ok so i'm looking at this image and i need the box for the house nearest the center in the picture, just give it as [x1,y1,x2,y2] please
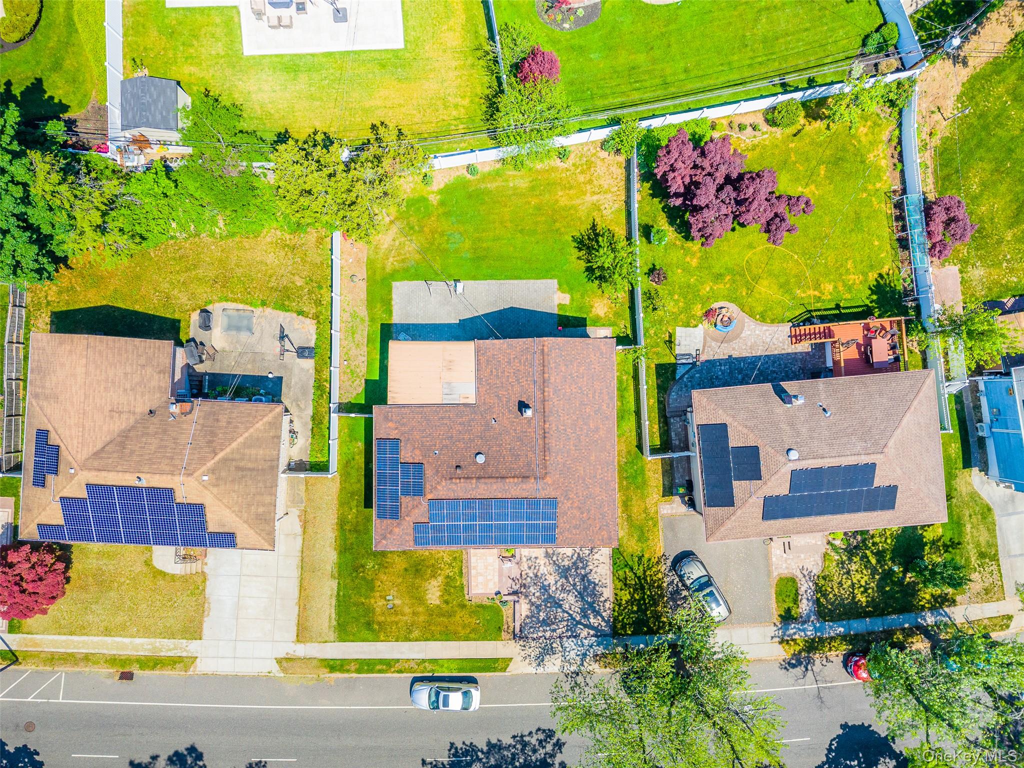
[371,337,620,553]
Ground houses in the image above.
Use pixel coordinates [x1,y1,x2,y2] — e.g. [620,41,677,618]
[687,368,949,543]
[17,333,296,552]
[371,337,620,553]
[978,366,1024,484]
